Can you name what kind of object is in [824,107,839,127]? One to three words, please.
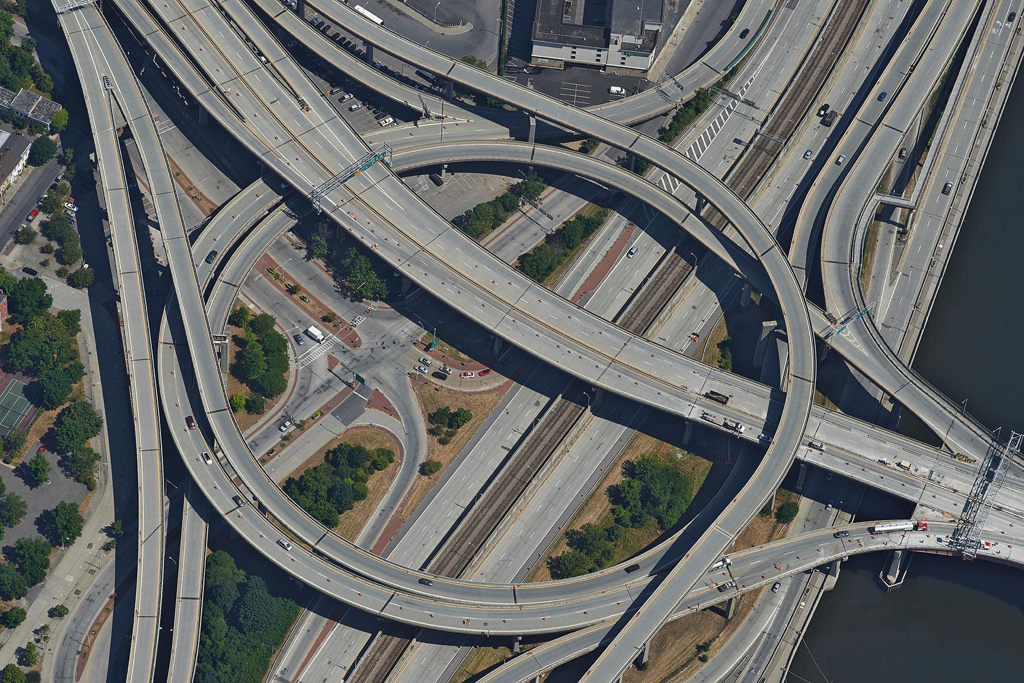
vehicle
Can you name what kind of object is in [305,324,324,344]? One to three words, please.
vehicle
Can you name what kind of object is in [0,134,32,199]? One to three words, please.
house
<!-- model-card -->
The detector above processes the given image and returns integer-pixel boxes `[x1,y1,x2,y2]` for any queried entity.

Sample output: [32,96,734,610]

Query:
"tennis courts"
[0,349,46,457]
